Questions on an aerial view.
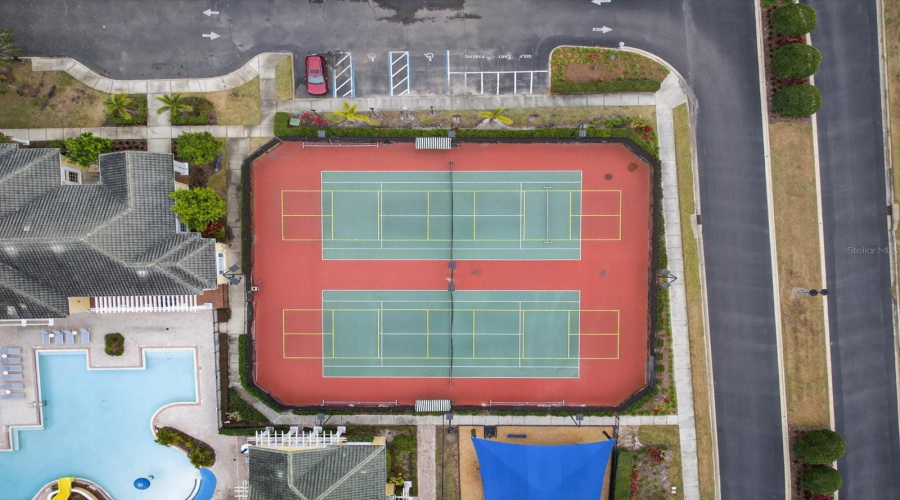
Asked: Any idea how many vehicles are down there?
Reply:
1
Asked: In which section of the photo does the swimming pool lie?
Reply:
bottom left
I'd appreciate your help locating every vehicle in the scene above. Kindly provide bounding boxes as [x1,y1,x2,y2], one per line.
[306,56,330,97]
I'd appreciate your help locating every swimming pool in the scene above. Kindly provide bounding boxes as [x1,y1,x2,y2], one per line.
[0,344,200,500]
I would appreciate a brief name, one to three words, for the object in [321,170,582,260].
tennis court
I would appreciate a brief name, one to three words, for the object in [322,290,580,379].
tennis court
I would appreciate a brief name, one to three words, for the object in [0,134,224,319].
building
